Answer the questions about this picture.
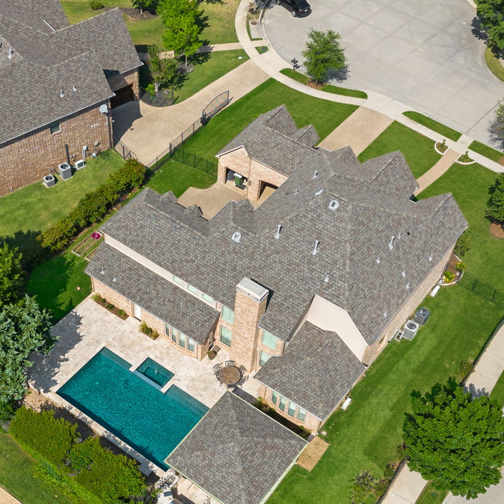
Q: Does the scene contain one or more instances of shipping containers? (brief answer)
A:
No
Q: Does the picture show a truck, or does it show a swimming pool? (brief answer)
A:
swimming pool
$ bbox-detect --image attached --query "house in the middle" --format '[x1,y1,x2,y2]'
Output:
[84,104,469,437]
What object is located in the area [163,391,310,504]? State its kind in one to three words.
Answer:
building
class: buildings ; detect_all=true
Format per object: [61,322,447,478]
[84,104,469,437]
[0,0,144,194]
[163,391,310,504]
